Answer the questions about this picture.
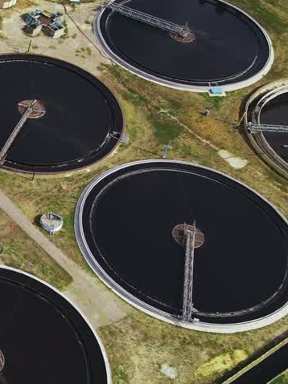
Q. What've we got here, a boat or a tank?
tank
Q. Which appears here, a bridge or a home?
bridge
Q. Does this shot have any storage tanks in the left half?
Yes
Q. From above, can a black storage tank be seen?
Yes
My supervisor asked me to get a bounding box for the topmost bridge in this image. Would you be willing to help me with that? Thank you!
[102,0,193,39]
